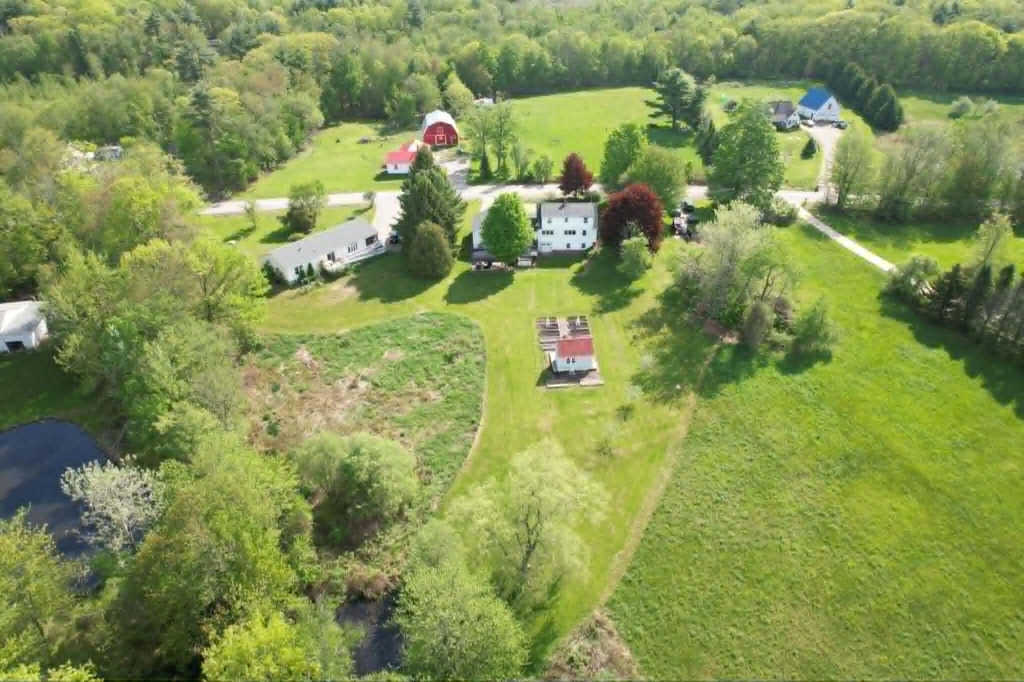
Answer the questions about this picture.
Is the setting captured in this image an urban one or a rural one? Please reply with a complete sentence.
It looks rural.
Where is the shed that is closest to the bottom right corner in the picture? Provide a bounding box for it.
[553,334,599,373]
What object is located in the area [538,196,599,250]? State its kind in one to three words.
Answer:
house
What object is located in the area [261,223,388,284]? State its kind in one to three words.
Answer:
house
